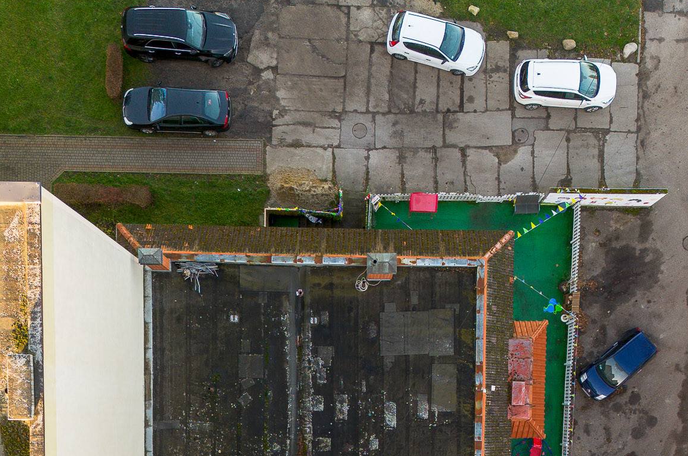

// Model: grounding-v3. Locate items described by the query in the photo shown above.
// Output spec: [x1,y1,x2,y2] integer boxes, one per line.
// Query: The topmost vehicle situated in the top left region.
[122,8,236,70]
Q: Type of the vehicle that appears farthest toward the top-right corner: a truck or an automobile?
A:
automobile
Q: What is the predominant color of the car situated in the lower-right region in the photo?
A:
blue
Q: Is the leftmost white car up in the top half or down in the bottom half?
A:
top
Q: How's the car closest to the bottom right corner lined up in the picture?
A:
diagonally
